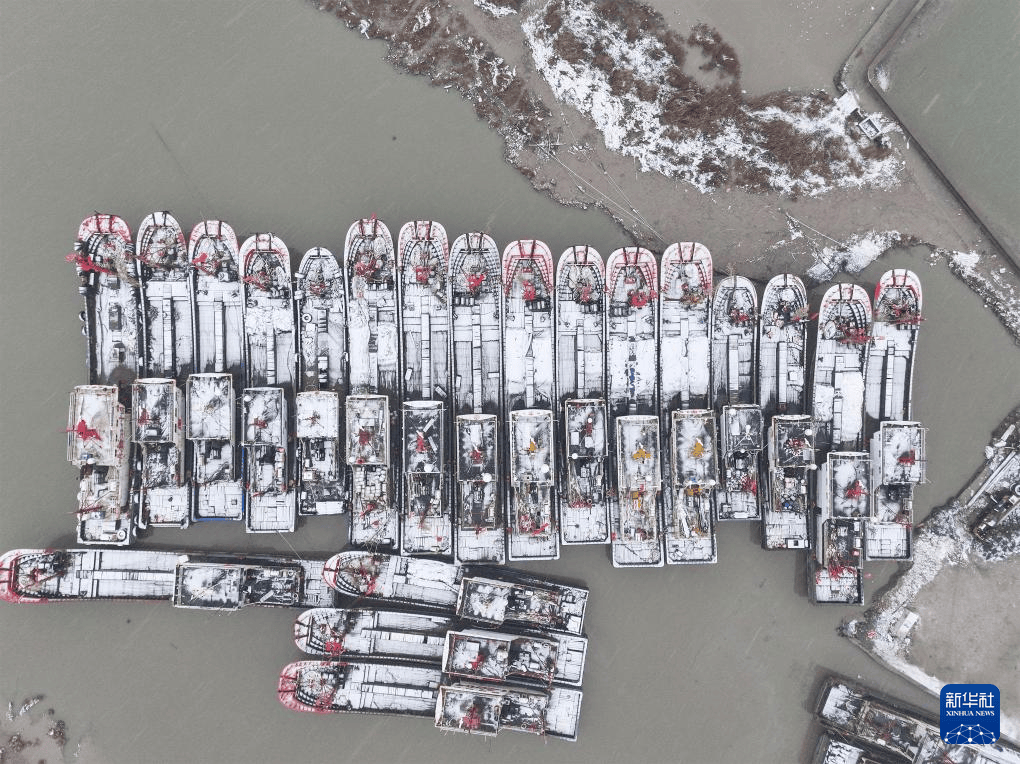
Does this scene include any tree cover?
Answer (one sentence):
No, tree cover can't be seen anywhere here.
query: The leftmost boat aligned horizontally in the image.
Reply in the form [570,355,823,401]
[0,547,341,613]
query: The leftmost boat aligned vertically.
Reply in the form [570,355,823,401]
[58,212,141,543]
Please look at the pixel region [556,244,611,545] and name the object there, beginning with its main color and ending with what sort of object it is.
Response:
white boat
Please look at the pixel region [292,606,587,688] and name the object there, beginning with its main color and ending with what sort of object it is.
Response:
white boat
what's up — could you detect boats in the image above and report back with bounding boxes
[807,283,875,605]
[292,606,587,688]
[296,245,349,515]
[658,241,720,565]
[124,209,197,526]
[0,547,341,613]
[184,219,247,521]
[449,231,505,564]
[711,273,768,521]
[863,267,929,561]
[756,272,817,550]
[58,212,141,543]
[343,216,400,549]
[502,239,559,562]
[320,552,589,634]
[605,246,663,569]
[811,675,1020,764]
[235,232,301,531]
[276,658,581,742]
[556,244,611,545]
[396,220,452,556]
